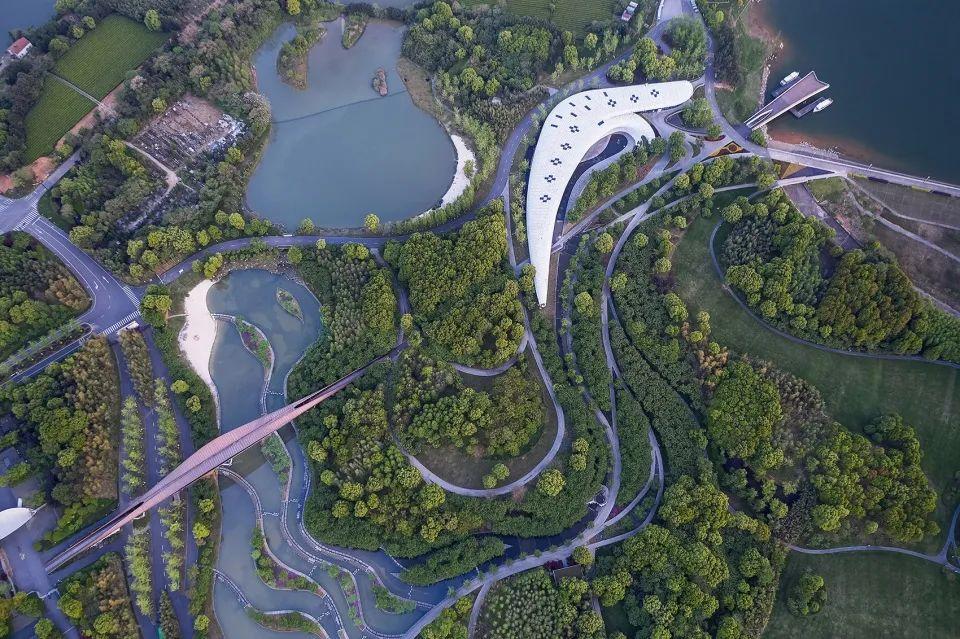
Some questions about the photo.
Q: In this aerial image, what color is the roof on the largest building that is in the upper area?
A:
white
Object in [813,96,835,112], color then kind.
white boat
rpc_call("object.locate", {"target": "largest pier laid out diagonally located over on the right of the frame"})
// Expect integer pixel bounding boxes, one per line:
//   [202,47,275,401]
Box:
[742,69,830,129]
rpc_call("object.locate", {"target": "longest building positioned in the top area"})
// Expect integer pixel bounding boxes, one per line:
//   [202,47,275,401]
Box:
[527,81,694,307]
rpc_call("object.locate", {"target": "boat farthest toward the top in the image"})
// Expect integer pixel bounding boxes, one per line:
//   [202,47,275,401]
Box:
[779,70,800,85]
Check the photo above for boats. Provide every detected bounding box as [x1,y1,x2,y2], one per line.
[779,70,800,85]
[813,96,835,112]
